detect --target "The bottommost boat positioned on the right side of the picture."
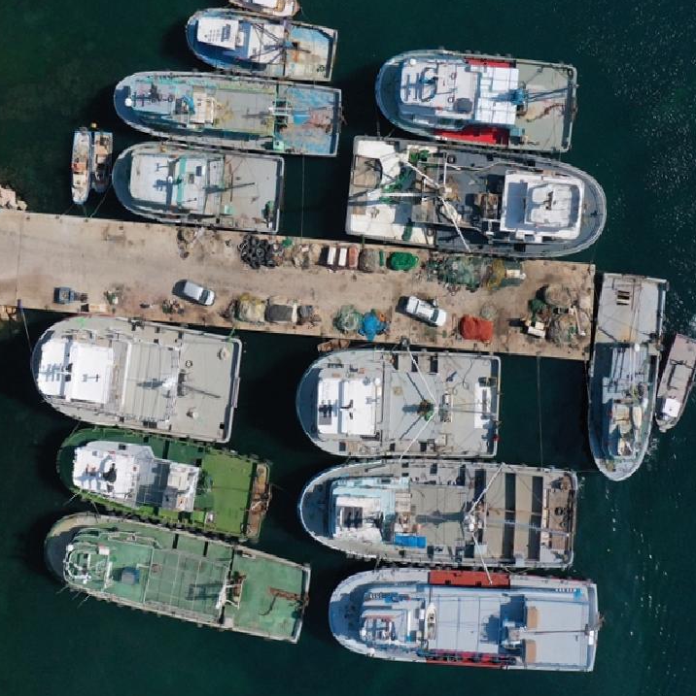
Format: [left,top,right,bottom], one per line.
[327,563,599,672]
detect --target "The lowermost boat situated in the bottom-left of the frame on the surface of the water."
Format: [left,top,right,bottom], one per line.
[43,513,314,644]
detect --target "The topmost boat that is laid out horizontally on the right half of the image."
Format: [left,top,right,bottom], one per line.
[374,50,576,155]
